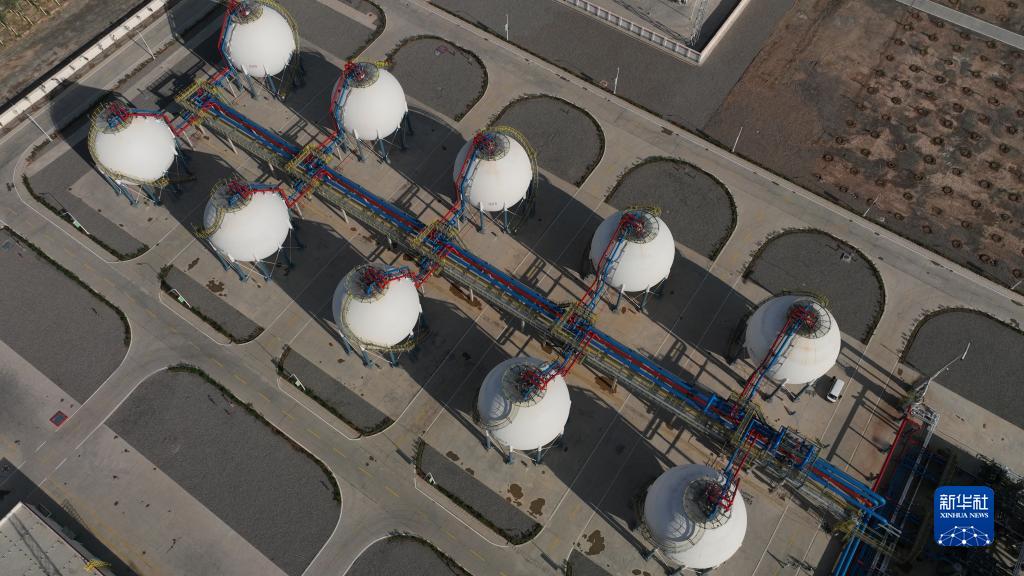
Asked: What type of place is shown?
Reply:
industrial area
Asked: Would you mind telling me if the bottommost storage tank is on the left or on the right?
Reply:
right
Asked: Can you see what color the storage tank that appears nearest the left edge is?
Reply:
white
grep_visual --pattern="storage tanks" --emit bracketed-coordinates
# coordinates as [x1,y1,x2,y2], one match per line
[726,287,840,409]
[470,345,579,465]
[195,177,310,281]
[331,257,436,367]
[86,102,198,205]
[442,125,538,232]
[580,202,676,313]
[320,58,414,161]
[632,446,747,576]
[211,0,308,98]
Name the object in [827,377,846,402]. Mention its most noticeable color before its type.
white vehicle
